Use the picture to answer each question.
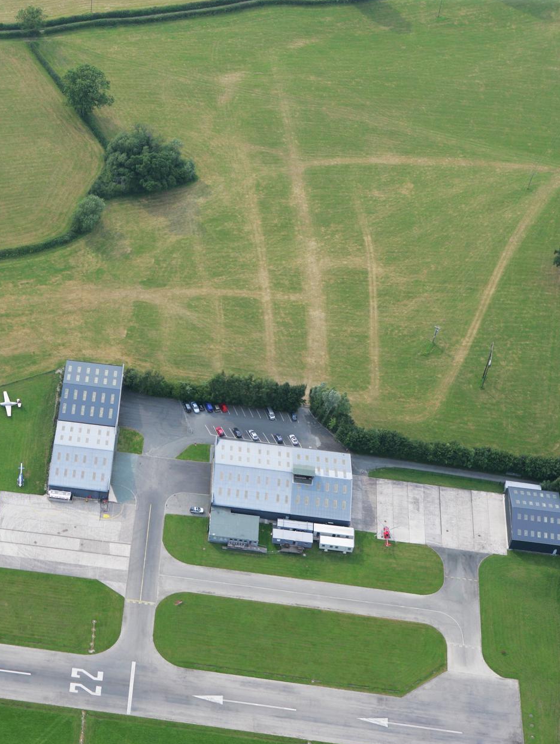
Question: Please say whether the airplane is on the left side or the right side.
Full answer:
It is on the left.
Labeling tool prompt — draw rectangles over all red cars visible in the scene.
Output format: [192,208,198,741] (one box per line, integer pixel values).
[220,402,228,412]
[215,426,223,435]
